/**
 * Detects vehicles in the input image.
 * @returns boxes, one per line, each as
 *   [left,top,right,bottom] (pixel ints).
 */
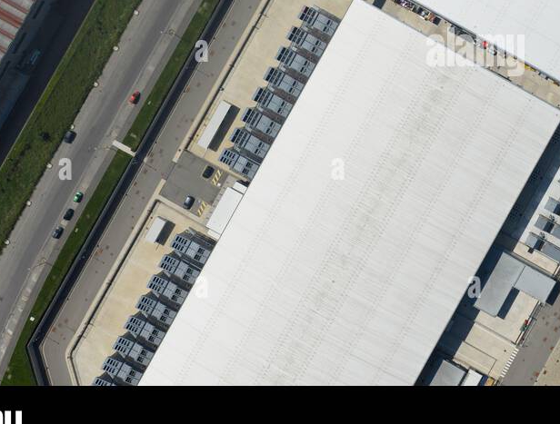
[73,191,83,203]
[64,208,74,221]
[184,195,195,209]
[53,226,64,239]
[65,129,75,143]
[130,91,141,104]
[203,165,215,178]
